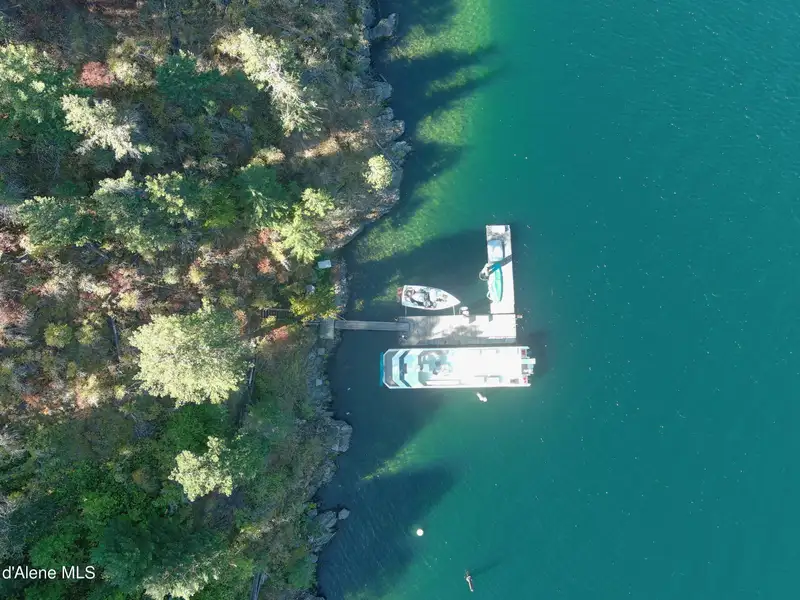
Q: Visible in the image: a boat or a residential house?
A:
boat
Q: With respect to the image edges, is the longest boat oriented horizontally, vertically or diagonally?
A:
horizontally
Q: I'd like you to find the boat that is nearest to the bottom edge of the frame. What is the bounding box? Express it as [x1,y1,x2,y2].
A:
[380,348,535,389]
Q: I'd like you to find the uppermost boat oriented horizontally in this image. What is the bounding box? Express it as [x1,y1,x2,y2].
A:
[395,286,460,310]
